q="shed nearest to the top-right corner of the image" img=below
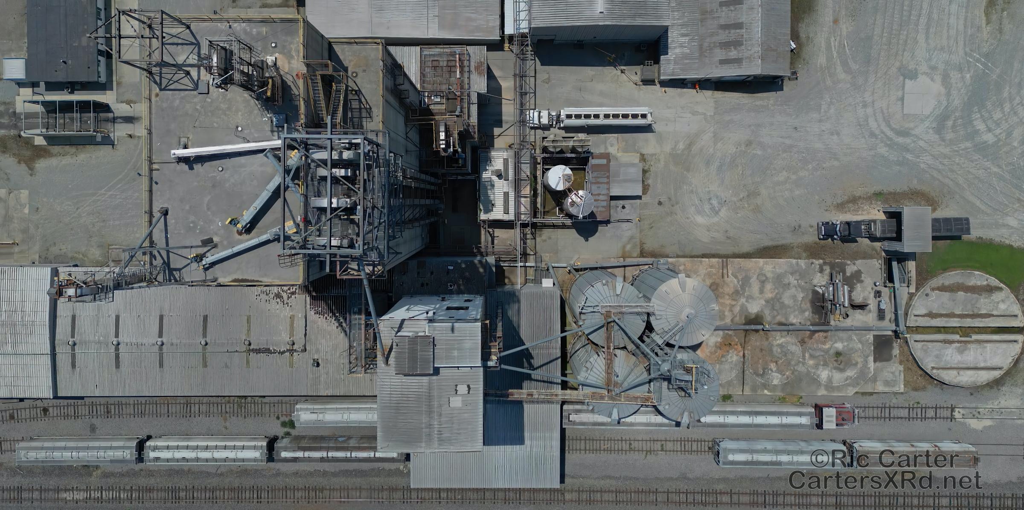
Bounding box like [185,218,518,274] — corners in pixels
[882,207,932,252]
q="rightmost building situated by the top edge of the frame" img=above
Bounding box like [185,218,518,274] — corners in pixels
[657,0,791,81]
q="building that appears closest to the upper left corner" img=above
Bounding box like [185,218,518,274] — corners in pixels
[27,0,109,83]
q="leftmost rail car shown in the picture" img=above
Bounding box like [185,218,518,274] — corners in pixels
[16,438,147,465]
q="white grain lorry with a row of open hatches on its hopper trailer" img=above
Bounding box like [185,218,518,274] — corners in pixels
[527,108,655,129]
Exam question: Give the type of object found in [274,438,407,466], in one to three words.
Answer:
rail car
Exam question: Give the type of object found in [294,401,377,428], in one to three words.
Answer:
rail car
